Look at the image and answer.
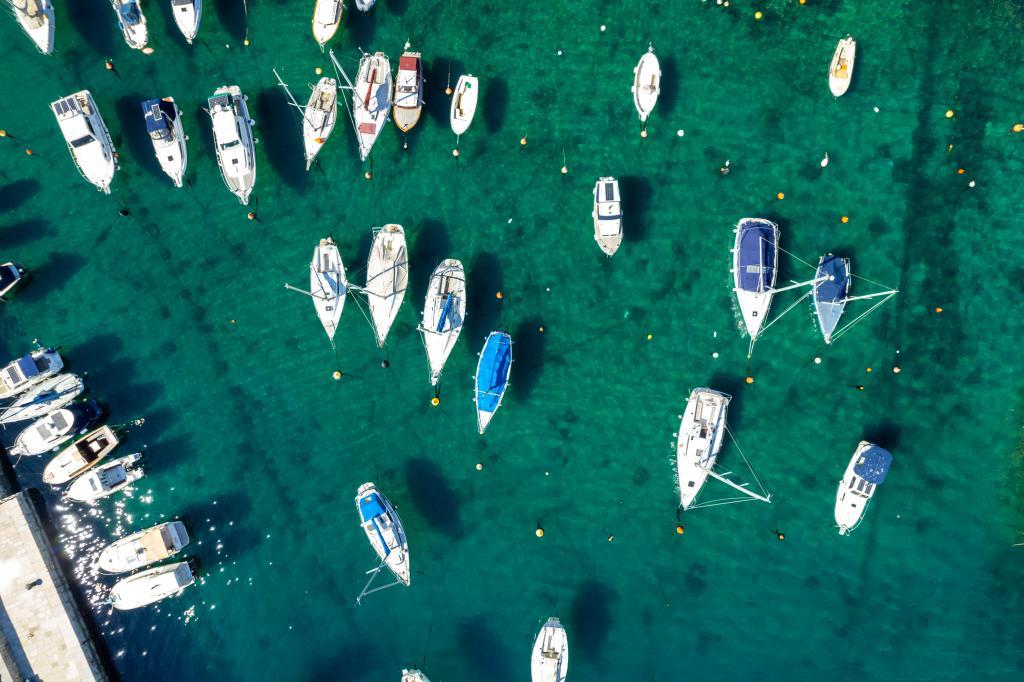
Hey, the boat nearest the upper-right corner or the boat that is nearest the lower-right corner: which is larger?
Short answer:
the boat that is nearest the lower-right corner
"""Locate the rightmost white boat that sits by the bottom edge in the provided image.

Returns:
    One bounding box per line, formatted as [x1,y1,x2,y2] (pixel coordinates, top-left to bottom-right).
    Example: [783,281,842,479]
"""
[531,601,572,682]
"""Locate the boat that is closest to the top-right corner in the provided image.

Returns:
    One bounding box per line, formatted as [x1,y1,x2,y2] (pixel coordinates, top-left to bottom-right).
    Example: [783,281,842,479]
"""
[828,35,856,96]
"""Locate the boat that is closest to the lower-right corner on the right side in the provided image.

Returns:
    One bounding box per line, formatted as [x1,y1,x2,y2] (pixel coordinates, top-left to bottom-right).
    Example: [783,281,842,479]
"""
[835,435,894,533]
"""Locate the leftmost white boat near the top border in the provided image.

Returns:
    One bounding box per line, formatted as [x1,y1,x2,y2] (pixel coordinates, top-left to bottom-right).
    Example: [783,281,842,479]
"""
[5,0,55,55]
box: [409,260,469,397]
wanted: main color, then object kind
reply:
white boat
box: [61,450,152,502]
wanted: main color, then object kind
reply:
white boat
